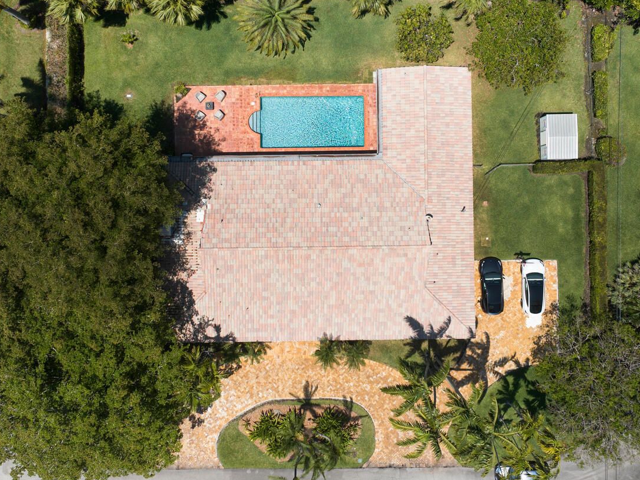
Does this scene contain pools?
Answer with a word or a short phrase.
Yes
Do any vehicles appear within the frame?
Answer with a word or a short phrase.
Yes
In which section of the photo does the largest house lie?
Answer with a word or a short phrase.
center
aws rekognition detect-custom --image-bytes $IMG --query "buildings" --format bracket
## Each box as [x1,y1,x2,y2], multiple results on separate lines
[540,113,581,161]
[161,65,475,341]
